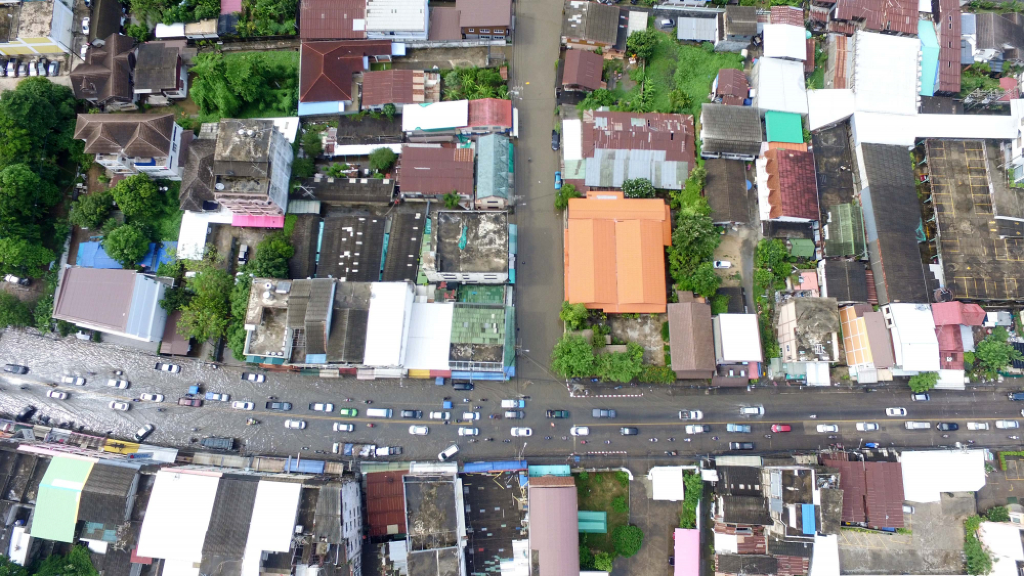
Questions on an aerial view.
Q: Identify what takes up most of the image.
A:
buildings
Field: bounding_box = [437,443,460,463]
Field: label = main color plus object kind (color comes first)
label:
white car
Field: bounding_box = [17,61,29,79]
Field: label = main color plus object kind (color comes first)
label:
gray vehicle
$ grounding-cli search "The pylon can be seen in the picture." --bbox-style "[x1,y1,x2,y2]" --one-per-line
[963,87,1019,105]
